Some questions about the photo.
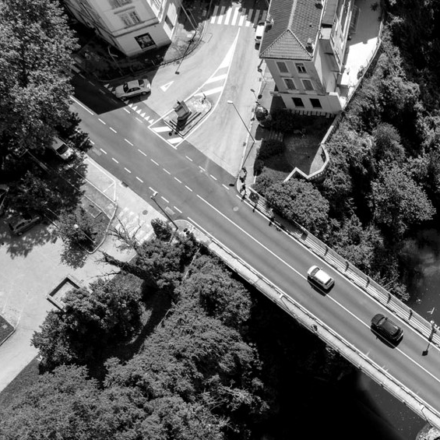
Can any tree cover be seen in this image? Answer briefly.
Yes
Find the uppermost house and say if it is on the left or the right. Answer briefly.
left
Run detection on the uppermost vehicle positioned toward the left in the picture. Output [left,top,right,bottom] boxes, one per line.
[112,78,151,100]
